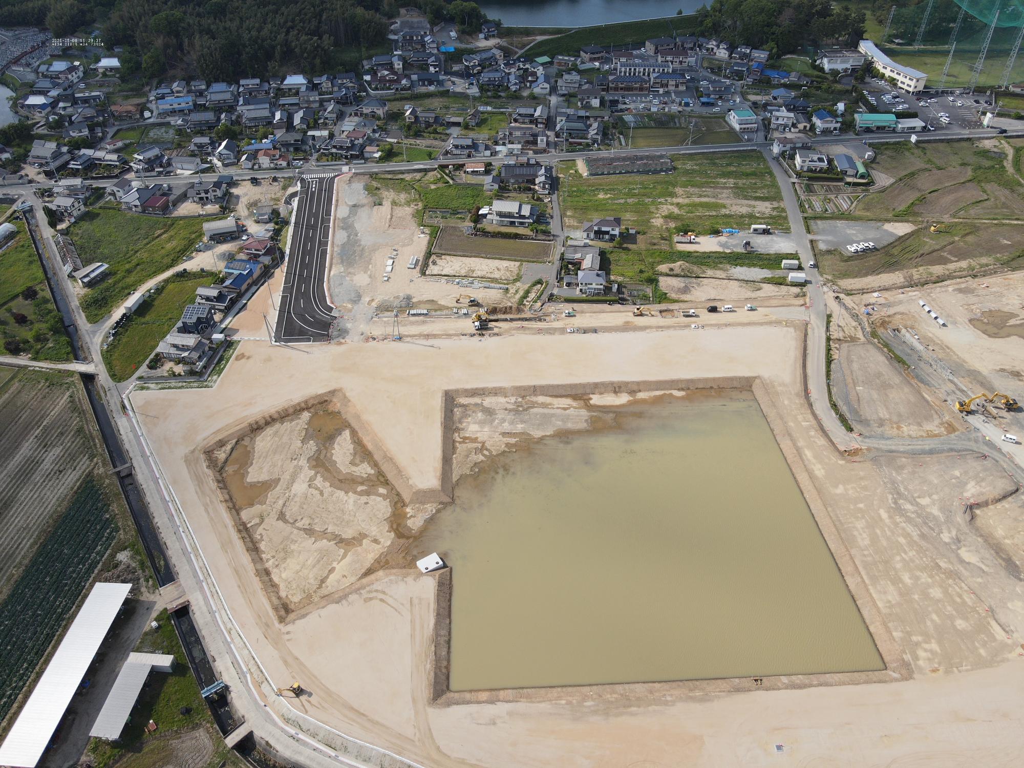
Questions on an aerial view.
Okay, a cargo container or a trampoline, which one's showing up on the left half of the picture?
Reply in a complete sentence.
There is a cargo container on the left half of the picture.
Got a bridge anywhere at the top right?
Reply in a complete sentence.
No, no bridge can be made out at the top right.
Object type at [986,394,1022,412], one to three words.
work vehicle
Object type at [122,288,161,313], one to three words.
shipping container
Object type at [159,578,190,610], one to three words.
bridge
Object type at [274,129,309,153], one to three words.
house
